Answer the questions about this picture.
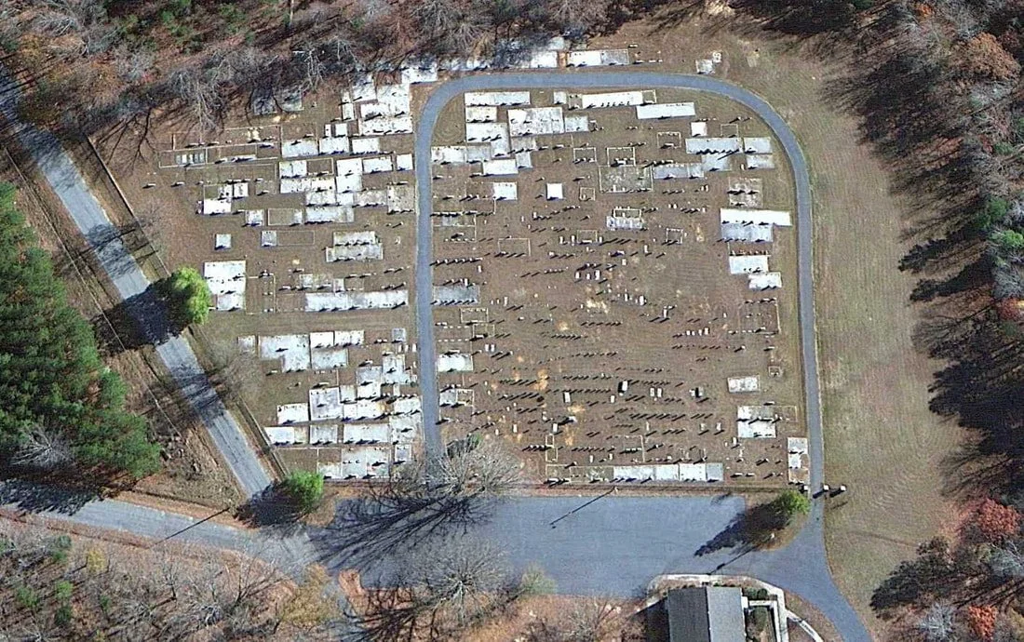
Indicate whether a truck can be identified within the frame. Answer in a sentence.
No, this view has no truck in it.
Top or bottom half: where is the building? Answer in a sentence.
The building is in the bottom half of the image.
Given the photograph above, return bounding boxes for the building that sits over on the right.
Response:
[668,582,749,642]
